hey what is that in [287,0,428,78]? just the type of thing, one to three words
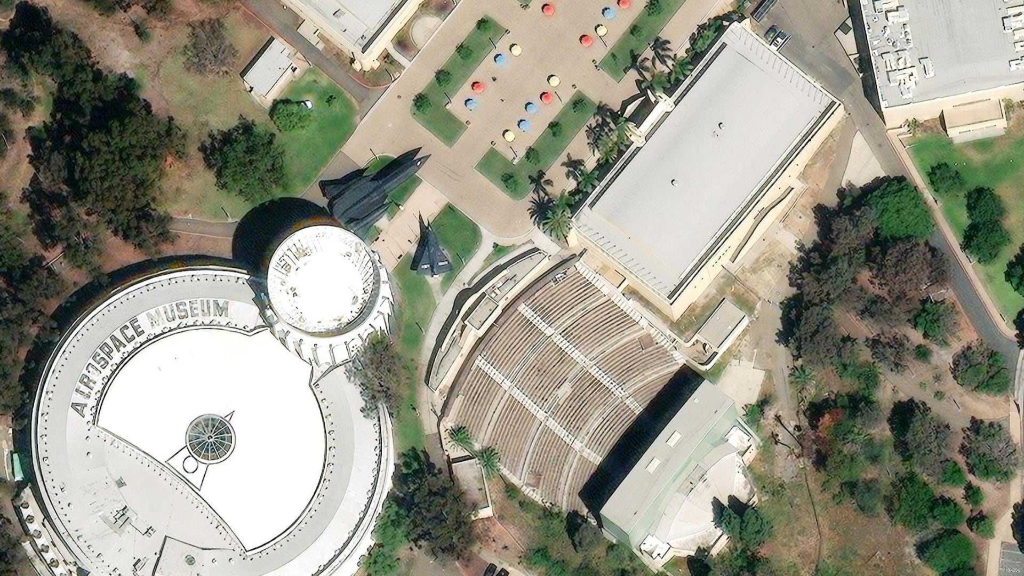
building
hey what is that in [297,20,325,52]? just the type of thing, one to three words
shed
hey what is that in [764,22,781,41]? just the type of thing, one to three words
car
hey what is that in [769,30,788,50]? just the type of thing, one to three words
car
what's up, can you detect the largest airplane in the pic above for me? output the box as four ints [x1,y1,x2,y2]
[319,154,430,237]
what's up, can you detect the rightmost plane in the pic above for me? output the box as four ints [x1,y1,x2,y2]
[418,214,454,277]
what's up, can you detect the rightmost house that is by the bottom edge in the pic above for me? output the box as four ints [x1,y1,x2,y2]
[600,380,763,576]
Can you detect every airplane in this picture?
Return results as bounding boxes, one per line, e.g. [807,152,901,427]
[319,154,430,237]
[418,214,454,277]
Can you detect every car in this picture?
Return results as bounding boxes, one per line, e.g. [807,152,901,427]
[764,22,781,41]
[497,565,510,576]
[484,561,497,576]
[769,30,788,50]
